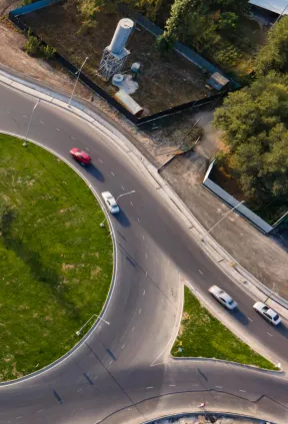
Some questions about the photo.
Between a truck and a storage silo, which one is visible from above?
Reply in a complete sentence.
Visible in the photo is a storage silo.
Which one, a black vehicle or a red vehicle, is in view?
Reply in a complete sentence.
This aerial view contains a red vehicle.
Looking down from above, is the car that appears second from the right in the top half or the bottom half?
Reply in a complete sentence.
The car that appears second from the right is in the bottom half of the image.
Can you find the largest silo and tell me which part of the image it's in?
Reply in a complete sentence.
The largest silo is located in the top region of the scene.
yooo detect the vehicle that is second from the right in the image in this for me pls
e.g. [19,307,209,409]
[207,286,238,310]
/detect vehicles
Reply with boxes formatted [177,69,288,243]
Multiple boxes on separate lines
[68,148,92,167]
[207,286,238,310]
[101,192,121,214]
[251,302,283,325]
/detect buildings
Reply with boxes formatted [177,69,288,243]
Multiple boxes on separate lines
[240,0,288,33]
[205,71,230,94]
